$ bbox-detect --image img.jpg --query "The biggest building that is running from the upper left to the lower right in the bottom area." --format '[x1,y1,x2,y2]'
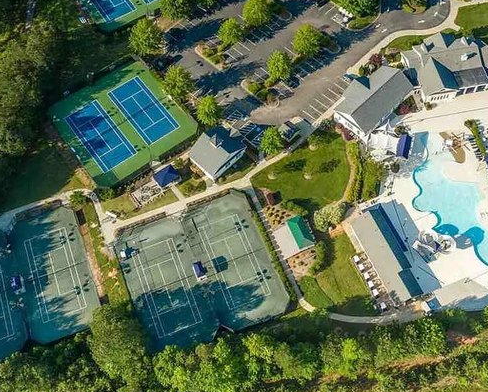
[351,210,435,310]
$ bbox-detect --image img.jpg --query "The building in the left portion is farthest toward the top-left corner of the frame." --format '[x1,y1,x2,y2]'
[153,164,183,194]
